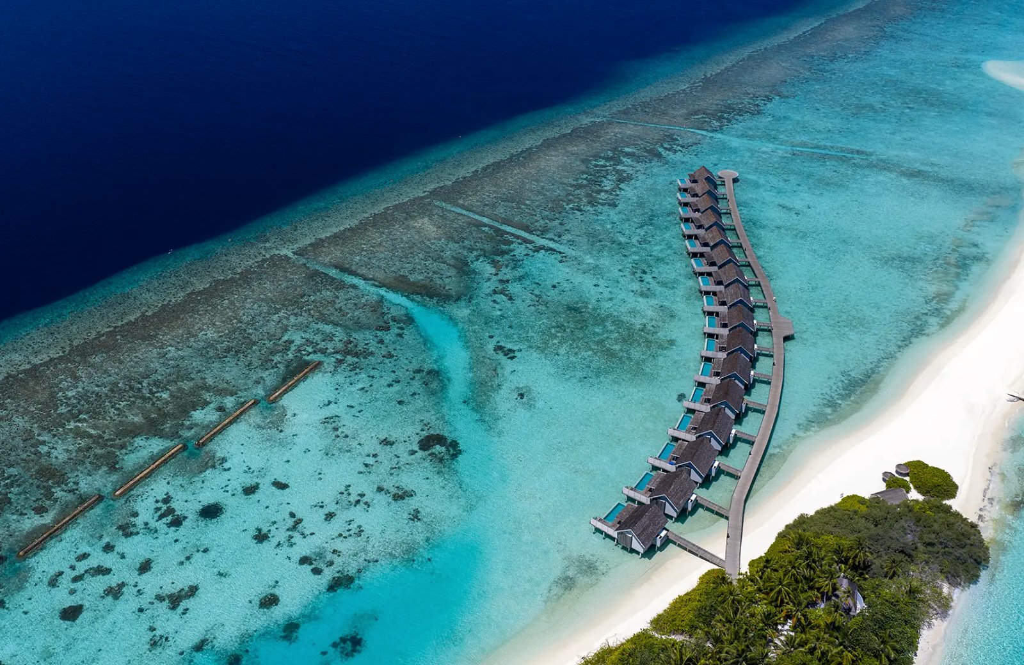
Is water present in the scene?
Yes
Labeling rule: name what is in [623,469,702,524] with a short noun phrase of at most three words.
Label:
house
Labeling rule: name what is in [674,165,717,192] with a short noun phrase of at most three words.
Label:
house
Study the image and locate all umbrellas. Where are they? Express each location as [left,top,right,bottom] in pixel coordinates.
[894,461,911,474]
[882,469,896,480]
